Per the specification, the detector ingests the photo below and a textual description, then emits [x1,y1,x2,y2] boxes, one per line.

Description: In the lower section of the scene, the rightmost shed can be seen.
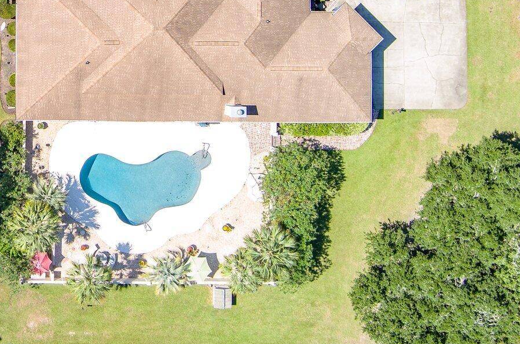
[210,284,232,310]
